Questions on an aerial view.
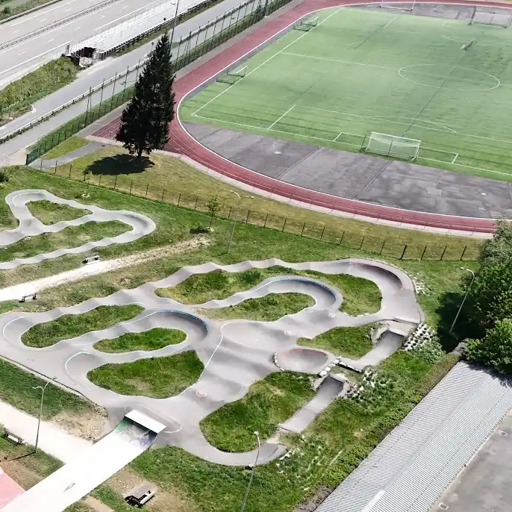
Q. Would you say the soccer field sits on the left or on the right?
right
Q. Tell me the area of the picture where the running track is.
top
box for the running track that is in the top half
[90,0,512,234]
